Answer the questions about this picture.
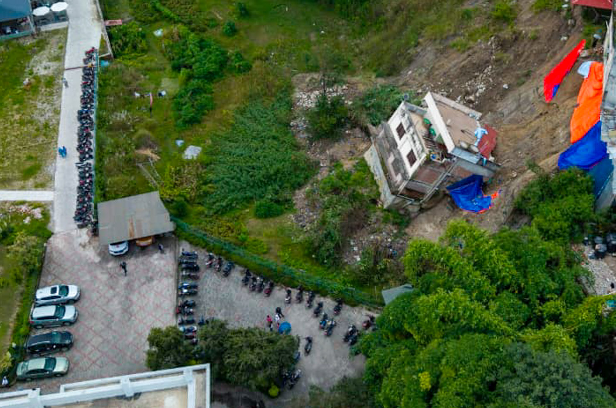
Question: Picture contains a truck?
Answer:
No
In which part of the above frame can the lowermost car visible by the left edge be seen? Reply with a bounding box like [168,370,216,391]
[12,353,69,380]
